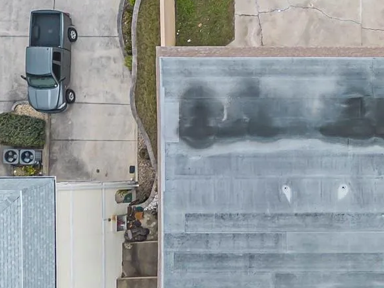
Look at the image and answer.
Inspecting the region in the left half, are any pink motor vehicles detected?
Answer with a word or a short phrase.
No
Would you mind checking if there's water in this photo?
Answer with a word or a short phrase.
No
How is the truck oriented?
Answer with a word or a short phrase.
up and down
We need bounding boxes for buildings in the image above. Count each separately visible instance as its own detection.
[156,45,384,288]
[0,177,135,288]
